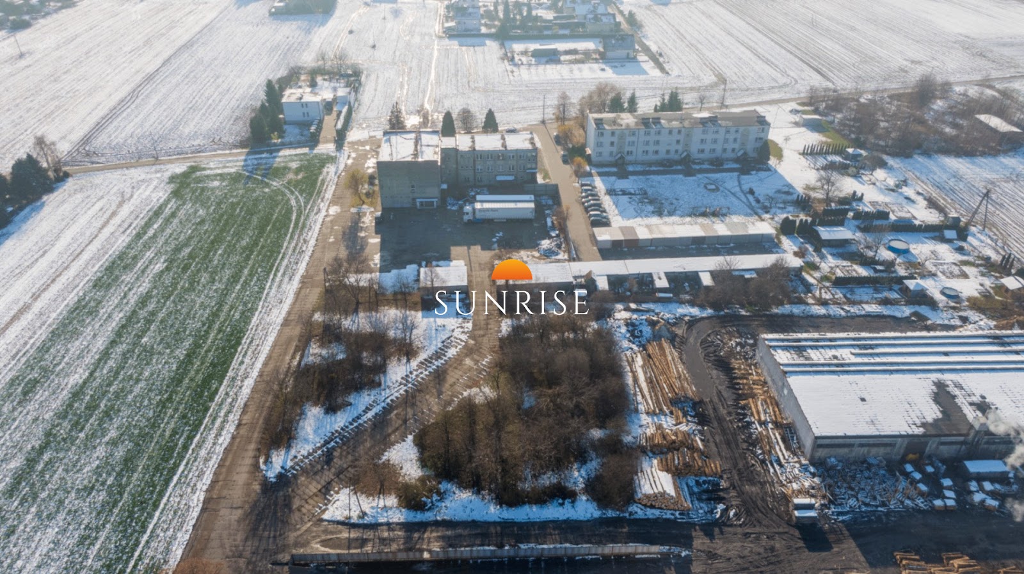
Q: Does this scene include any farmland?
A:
Yes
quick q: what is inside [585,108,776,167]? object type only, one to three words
building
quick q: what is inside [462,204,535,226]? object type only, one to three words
truck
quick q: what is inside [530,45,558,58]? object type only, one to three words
shed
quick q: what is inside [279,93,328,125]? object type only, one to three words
house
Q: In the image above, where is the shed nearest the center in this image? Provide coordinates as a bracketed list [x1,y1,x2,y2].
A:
[493,262,572,299]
